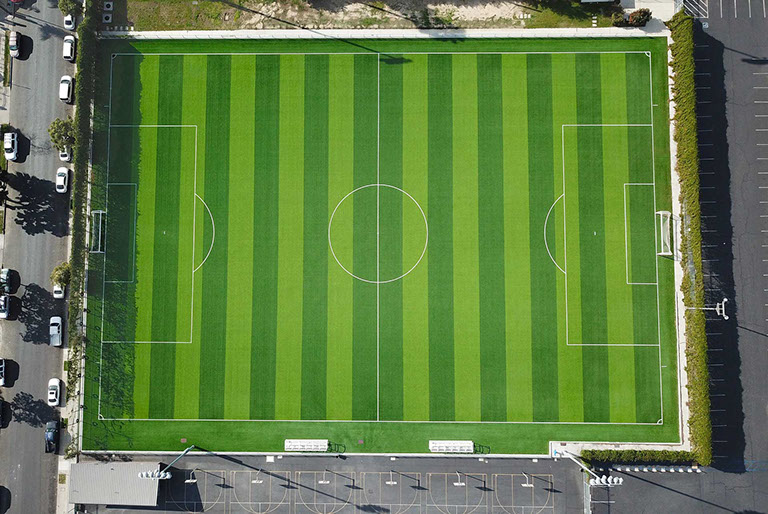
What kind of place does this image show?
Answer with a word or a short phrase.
sports ground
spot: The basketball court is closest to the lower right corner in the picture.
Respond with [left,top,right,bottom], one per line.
[492,473,554,514]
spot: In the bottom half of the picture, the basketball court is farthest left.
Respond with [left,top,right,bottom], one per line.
[164,470,226,514]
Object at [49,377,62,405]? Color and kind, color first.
white vehicle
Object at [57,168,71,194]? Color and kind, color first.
white car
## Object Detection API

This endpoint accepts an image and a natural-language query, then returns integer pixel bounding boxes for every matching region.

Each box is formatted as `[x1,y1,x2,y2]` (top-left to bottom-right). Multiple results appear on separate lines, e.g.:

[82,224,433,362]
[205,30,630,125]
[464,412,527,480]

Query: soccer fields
[80,36,680,456]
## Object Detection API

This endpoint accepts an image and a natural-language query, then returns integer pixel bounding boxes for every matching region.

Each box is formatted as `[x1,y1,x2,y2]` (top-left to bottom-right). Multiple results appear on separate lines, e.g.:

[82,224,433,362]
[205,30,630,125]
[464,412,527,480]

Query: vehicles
[0,399,7,428]
[63,38,76,63]
[0,295,12,321]
[60,77,74,104]
[64,14,78,39]
[0,267,14,294]
[57,168,71,194]
[53,276,67,300]
[49,377,62,405]
[4,132,20,161]
[50,315,65,347]
[59,143,72,166]
[0,357,9,385]
[10,33,25,61]
[46,419,61,452]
